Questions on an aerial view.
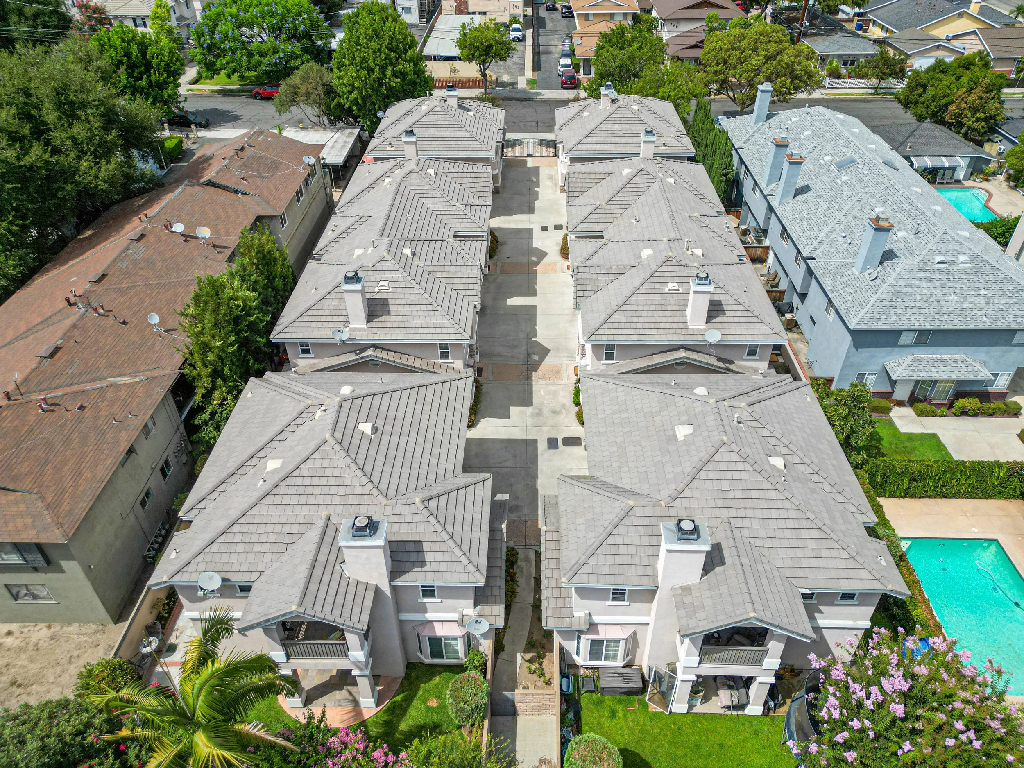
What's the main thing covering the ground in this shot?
buildings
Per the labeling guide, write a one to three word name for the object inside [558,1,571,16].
vehicle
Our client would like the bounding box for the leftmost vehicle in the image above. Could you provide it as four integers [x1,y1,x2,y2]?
[163,107,213,125]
